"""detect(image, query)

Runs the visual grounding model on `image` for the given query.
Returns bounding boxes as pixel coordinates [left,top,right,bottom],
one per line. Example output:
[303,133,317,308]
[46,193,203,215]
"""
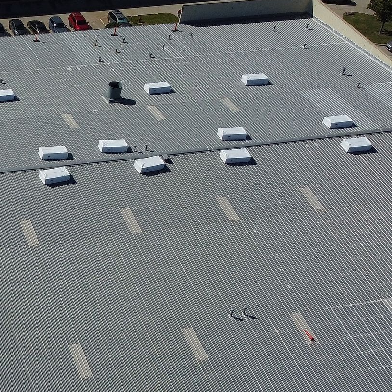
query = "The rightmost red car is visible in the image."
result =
[65,10,88,32]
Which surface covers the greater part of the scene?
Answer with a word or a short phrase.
buildings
